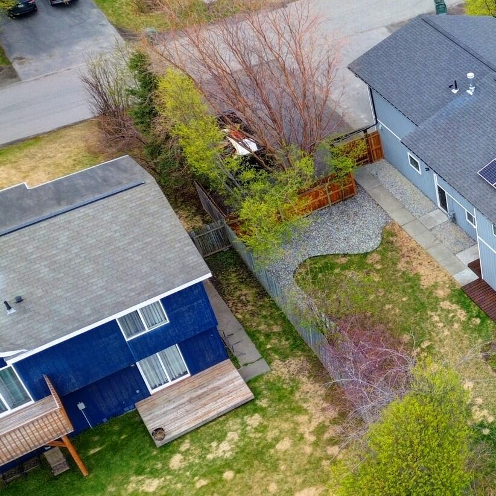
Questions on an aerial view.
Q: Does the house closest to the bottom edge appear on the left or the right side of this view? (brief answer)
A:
left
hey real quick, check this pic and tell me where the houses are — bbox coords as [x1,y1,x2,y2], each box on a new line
[0,154,231,480]
[293,15,496,287]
